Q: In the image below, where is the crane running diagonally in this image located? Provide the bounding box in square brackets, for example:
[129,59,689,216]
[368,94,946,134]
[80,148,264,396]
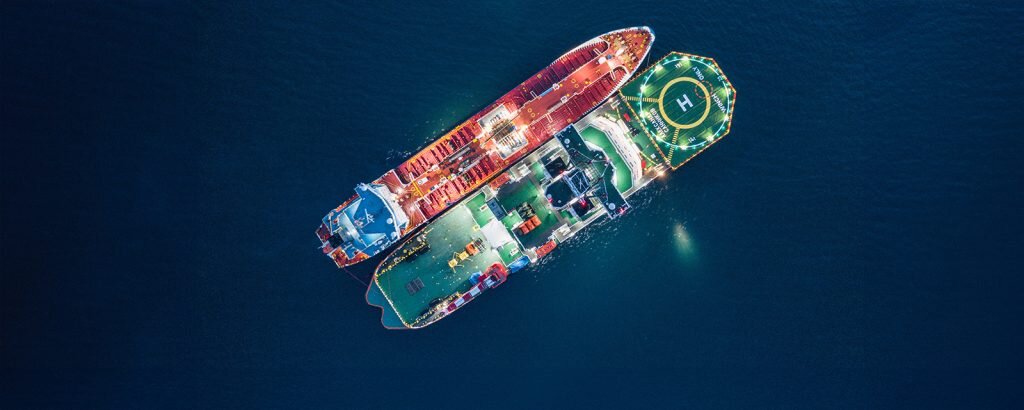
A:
[446,263,508,313]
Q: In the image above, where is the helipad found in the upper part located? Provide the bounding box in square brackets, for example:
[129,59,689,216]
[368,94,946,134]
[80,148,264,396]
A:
[618,51,737,170]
